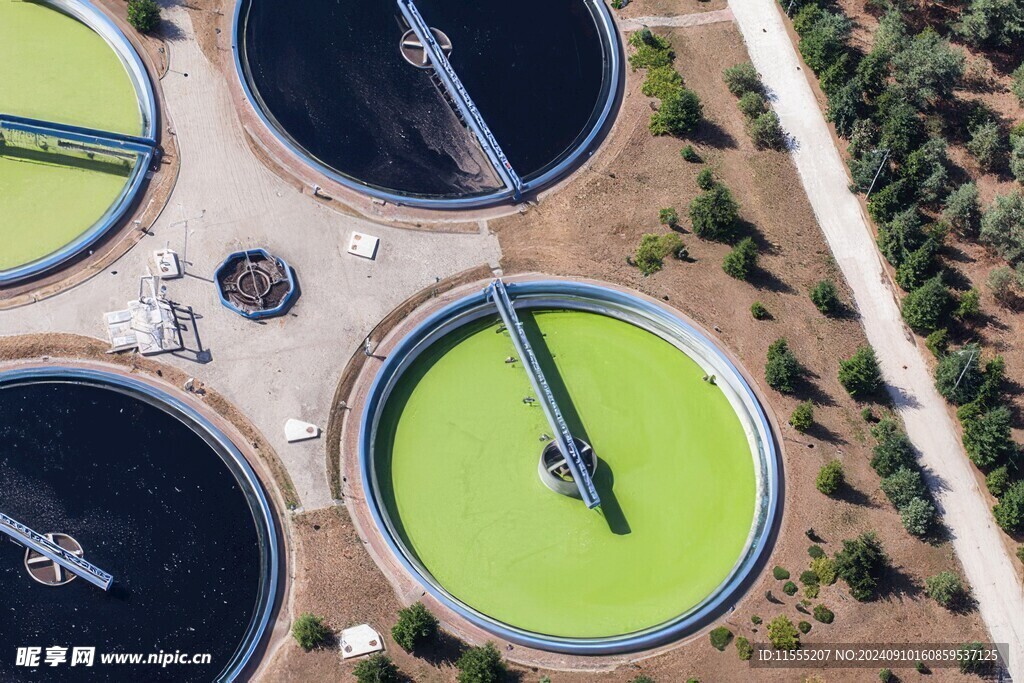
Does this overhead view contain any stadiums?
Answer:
No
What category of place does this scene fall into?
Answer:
industrial area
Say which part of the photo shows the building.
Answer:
left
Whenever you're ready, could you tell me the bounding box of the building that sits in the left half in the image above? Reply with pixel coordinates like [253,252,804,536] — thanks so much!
[104,275,187,357]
